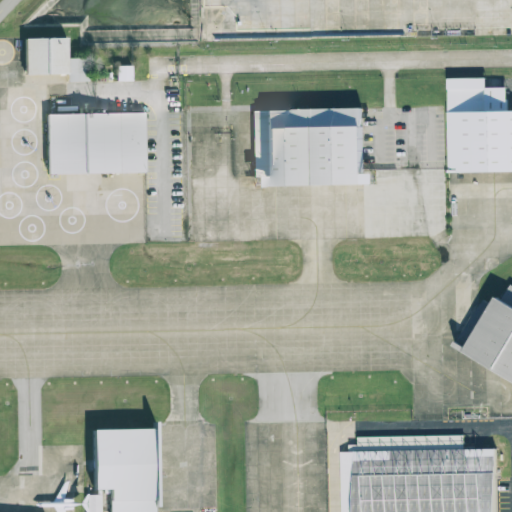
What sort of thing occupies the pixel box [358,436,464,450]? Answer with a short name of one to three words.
building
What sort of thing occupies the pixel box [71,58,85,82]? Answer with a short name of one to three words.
building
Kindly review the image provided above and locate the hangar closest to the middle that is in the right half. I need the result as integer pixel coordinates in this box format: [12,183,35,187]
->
[254,108,370,186]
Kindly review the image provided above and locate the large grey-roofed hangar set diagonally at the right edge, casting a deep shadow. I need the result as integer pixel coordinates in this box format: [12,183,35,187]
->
[453,287,512,381]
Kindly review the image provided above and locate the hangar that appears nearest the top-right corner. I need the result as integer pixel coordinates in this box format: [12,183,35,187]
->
[447,78,512,173]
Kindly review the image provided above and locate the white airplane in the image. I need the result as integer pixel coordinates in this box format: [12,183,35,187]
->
[38,482,88,512]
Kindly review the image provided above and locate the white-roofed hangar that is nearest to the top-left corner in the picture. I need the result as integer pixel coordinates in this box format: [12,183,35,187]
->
[26,37,70,74]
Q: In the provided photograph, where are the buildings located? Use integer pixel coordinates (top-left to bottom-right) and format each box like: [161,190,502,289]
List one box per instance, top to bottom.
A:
[26,37,70,74]
[71,58,85,82]
[118,66,134,81]
[447,78,512,173]
[254,108,370,186]
[48,113,147,175]
[453,287,512,381]
[94,423,161,512]
[358,436,464,450]
[342,450,501,512]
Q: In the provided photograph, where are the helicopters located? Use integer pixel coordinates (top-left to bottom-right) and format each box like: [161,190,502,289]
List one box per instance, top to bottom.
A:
[18,134,35,150]
[43,190,56,207]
